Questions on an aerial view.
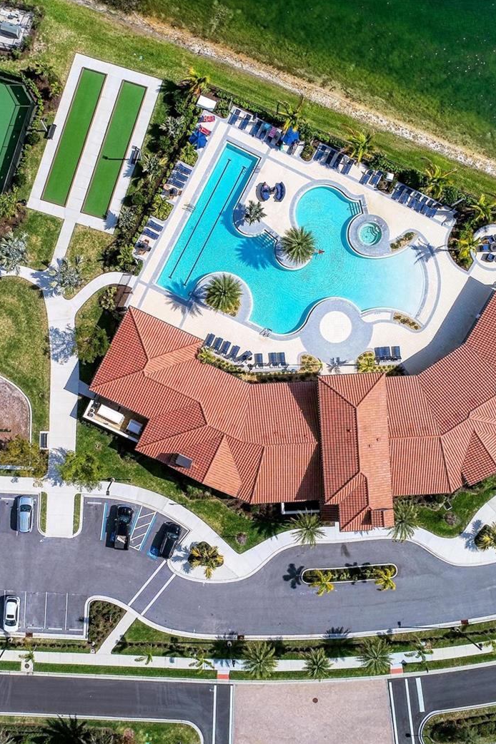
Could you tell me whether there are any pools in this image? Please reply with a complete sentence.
Yes, a pool can be made out from above.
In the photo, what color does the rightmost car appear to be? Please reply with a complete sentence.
The rightmost car is black.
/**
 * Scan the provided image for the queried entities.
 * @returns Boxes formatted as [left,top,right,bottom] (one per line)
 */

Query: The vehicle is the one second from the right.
[113,504,132,551]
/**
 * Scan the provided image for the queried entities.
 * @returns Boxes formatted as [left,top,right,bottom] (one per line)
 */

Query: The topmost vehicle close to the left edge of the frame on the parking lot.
[16,495,34,533]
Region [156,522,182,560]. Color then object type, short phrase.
black car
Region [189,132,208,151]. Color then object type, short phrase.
blue umbrella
